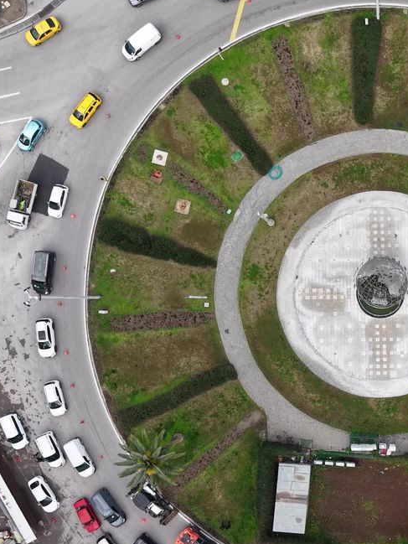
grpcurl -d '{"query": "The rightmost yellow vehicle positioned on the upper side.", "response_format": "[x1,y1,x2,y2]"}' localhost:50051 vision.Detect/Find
[68,90,104,129]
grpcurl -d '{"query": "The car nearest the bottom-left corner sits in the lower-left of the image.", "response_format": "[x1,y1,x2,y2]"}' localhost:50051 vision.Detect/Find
[26,474,61,515]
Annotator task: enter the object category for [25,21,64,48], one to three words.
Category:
car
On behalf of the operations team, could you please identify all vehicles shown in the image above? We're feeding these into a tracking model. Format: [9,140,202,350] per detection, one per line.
[26,474,61,515]
[43,379,68,417]
[68,90,104,129]
[0,410,31,452]
[25,21,64,48]
[94,531,117,544]
[60,435,96,480]
[36,318,58,358]
[29,251,56,296]
[34,429,67,470]
[134,484,181,528]
[121,20,163,61]
[47,183,70,219]
[4,177,39,233]
[17,116,48,154]
[171,524,223,544]
[91,485,126,529]
[133,530,158,544]
[73,496,101,534]
[18,297,33,307]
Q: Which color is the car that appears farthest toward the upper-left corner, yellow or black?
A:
yellow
